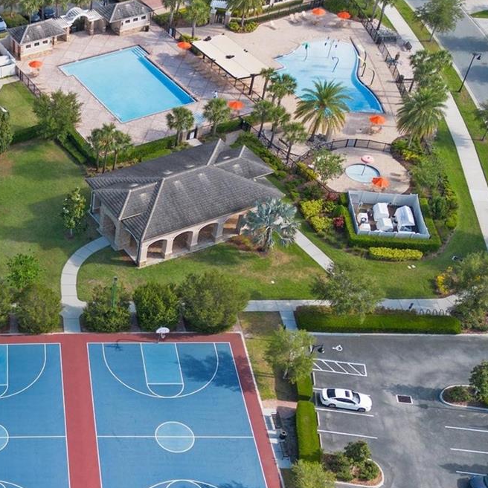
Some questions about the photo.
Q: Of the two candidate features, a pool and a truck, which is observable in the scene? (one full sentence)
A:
Looking from above, you can make out a pool.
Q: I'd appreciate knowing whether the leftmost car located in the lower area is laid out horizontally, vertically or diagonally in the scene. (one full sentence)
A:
The leftmost car located in the lower area is laid out horizontally.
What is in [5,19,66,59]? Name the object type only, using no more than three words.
building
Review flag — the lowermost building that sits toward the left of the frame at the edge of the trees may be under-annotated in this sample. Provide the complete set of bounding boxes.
[86,139,284,268]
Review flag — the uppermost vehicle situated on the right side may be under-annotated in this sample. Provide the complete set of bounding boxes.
[320,386,373,410]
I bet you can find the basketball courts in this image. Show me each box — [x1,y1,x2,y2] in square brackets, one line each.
[0,336,87,488]
[73,332,281,488]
